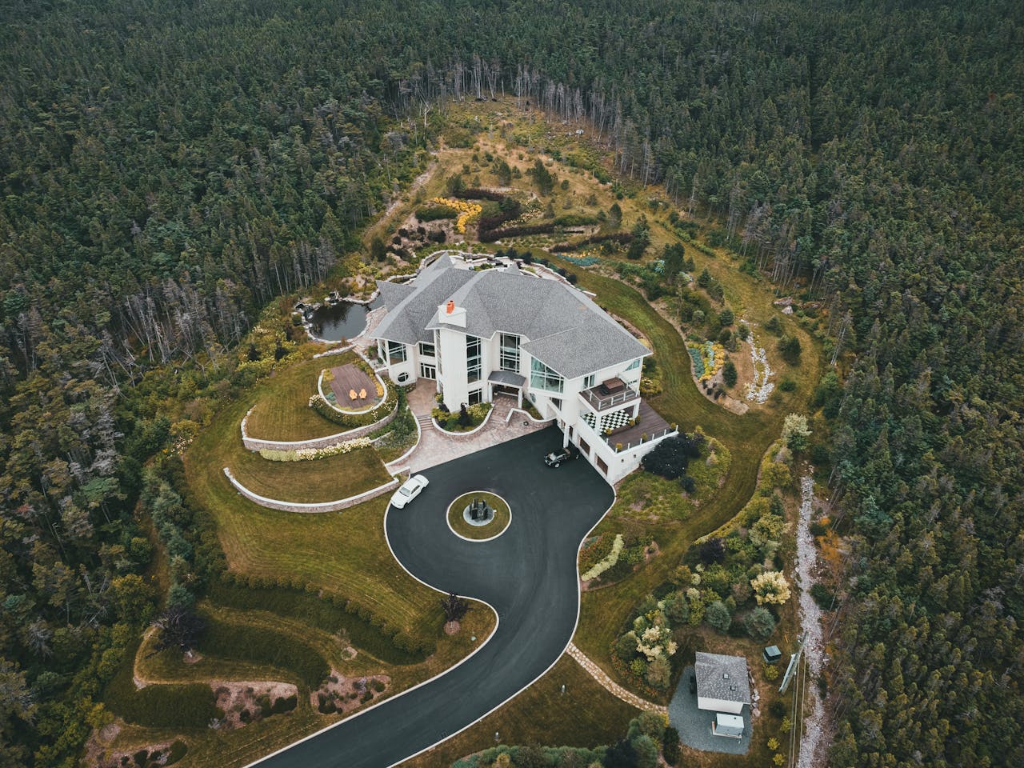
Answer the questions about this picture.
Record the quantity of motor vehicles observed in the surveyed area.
2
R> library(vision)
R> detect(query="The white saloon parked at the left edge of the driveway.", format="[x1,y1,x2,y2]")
[390,469,432,503]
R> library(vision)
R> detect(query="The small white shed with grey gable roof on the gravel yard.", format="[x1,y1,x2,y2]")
[693,648,754,714]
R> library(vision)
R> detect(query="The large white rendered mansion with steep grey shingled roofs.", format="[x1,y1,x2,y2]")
[369,252,672,484]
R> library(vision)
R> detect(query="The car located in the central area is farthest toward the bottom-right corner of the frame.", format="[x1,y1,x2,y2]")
[541,443,575,466]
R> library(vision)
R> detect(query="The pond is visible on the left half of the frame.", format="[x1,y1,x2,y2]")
[306,293,380,342]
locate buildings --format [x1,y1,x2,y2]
[369,252,672,484]
[693,648,754,714]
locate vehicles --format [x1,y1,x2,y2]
[541,443,575,466]
[390,469,432,503]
